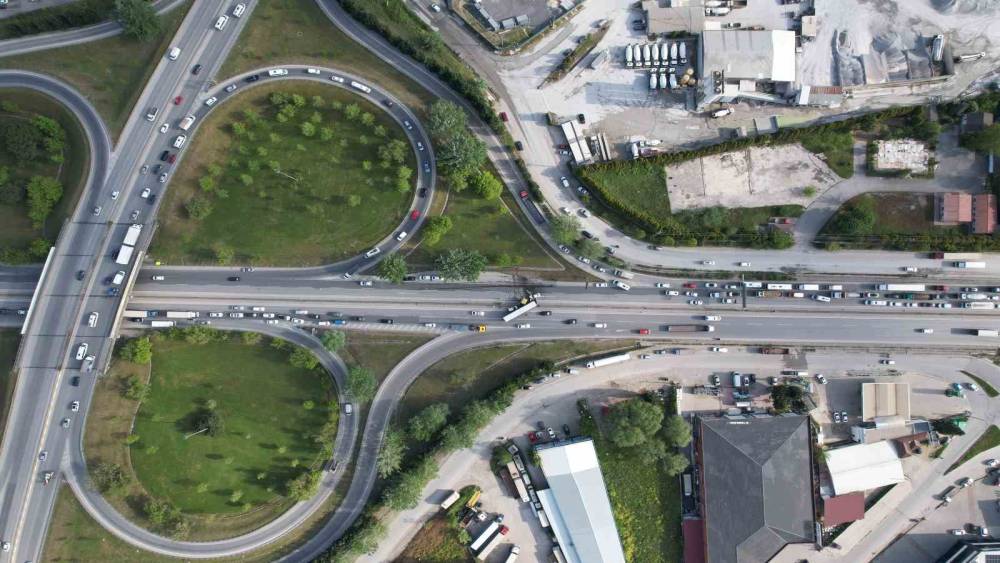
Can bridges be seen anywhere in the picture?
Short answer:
Yes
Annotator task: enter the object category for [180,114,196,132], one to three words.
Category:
vehicle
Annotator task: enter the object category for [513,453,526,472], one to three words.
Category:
vehicle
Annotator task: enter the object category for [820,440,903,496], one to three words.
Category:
shed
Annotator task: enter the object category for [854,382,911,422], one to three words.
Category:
building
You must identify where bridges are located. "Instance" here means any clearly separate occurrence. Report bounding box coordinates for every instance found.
[14,222,155,367]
